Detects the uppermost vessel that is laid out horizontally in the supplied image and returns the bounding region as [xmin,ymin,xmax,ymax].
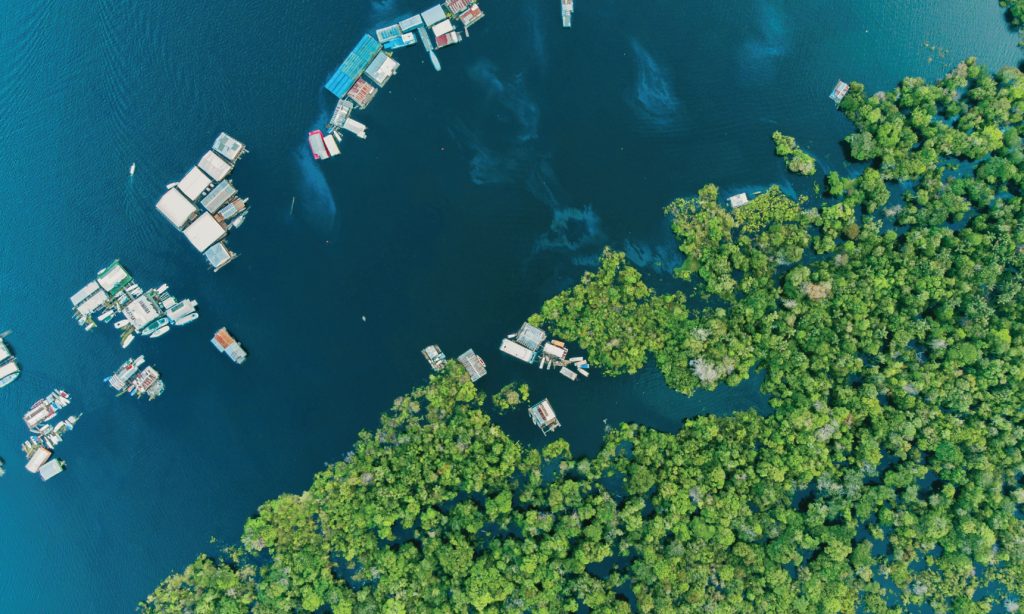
[383,34,418,47]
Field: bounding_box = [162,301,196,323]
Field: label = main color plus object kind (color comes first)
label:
white boat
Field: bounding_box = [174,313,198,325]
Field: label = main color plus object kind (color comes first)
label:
white boat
